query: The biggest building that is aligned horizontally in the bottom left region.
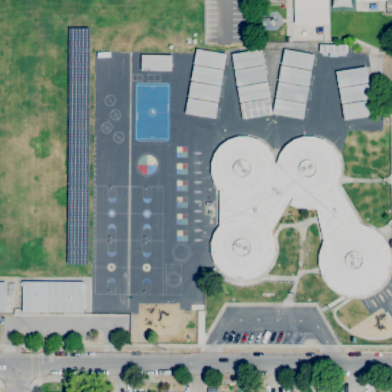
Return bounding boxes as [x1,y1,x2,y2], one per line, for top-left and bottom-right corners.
[21,282,84,313]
